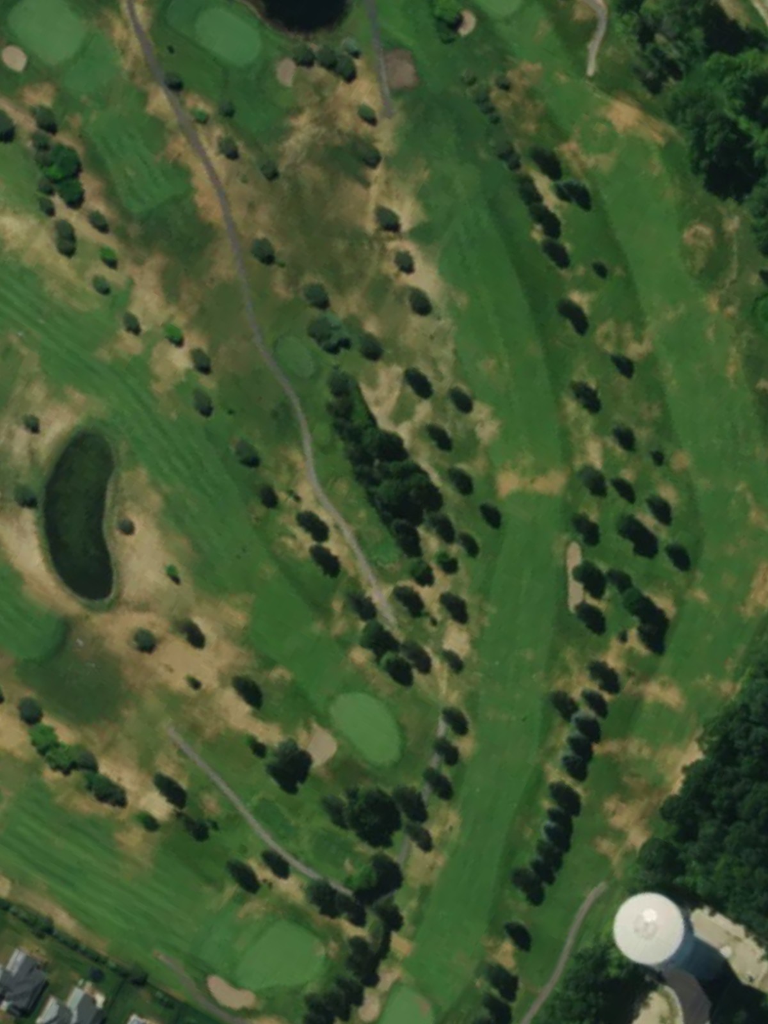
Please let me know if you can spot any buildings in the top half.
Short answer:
No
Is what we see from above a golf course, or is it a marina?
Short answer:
golf course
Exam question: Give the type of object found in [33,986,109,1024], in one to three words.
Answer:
house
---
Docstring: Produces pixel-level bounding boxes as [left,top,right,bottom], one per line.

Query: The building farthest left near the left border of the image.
[0,947,48,1022]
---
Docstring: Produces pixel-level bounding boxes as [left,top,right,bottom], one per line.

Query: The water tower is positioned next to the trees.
[614,892,726,984]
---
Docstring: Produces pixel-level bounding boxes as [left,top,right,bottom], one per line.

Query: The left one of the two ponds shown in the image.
[44,427,116,601]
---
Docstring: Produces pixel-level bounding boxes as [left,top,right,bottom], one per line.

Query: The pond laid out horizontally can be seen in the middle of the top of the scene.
[261,0,352,35]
